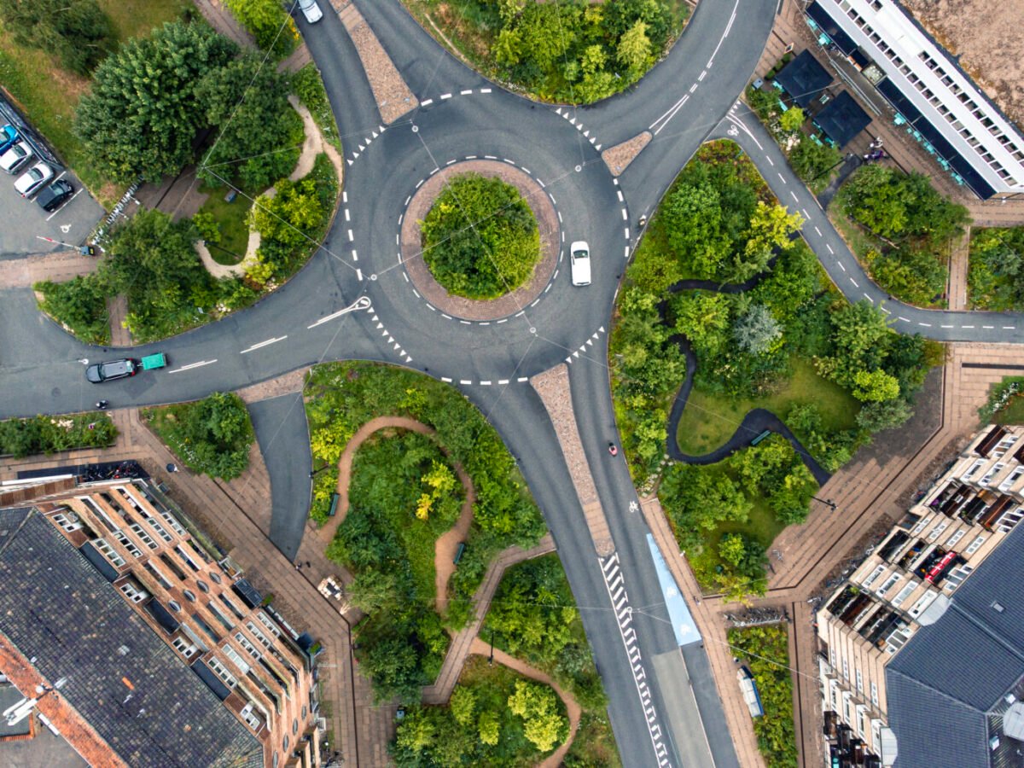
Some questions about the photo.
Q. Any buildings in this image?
Yes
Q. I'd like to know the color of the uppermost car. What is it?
white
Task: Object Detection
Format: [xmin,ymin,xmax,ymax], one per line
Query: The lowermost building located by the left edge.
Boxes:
[0,465,346,768]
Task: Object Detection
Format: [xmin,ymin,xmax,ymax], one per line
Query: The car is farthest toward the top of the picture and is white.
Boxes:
[294,0,322,25]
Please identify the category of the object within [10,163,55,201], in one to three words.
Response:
car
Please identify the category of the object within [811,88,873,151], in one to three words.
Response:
umbrella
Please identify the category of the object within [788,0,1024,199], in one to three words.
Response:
building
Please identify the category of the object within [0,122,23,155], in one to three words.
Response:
car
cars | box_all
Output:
[0,122,23,155]
[87,358,137,382]
[10,163,55,201]
[0,140,35,178]
[33,178,75,214]
[294,0,322,25]
[570,242,592,286]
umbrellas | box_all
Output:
[772,48,835,110]
[811,88,873,151]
